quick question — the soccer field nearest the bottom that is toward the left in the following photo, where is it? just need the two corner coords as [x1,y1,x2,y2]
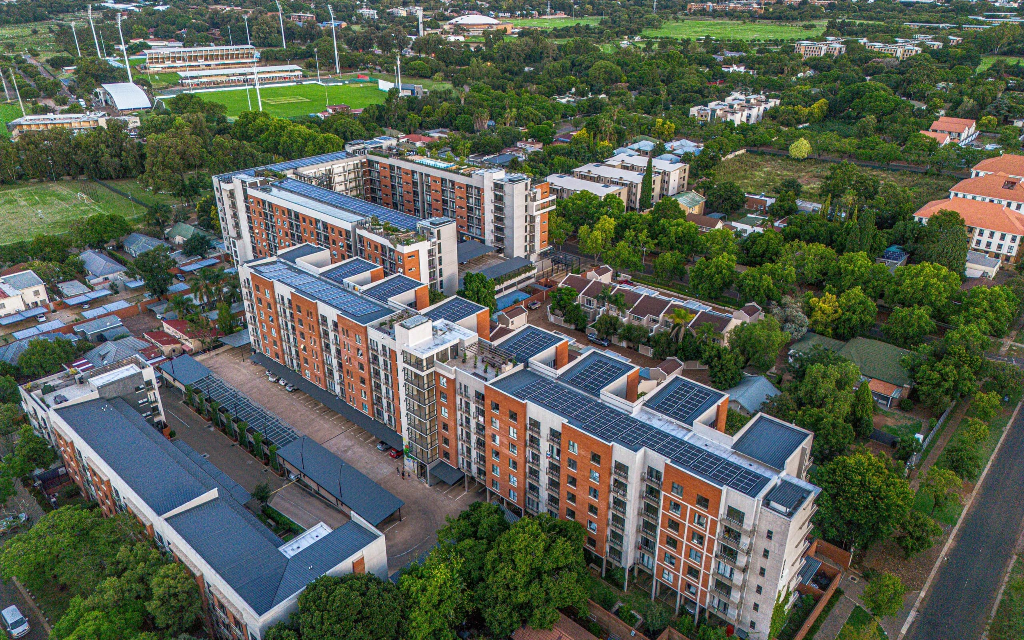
[0,173,144,245]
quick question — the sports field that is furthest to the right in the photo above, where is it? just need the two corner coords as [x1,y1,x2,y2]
[133,61,181,89]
